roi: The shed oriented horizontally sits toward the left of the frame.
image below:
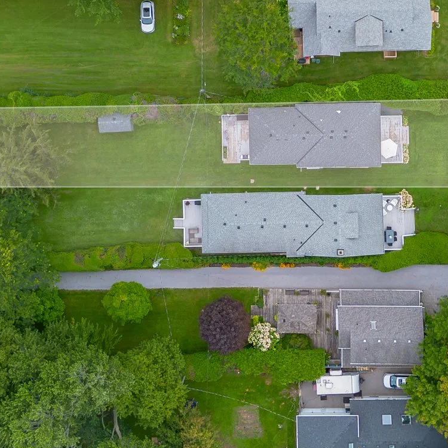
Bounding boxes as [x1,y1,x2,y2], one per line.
[98,114,135,133]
